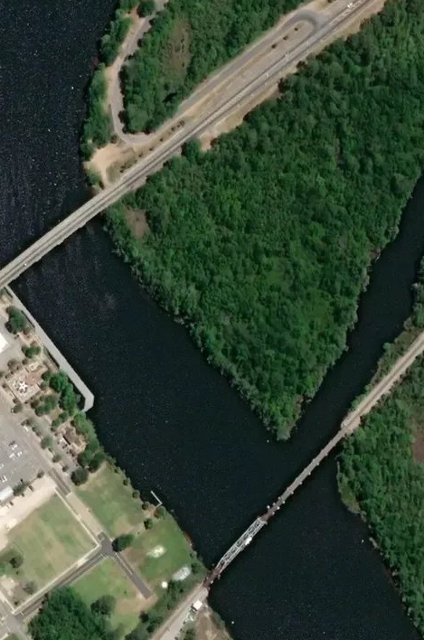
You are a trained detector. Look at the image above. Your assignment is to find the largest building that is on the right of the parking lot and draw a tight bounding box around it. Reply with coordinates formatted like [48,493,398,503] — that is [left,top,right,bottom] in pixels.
[59,425,88,449]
